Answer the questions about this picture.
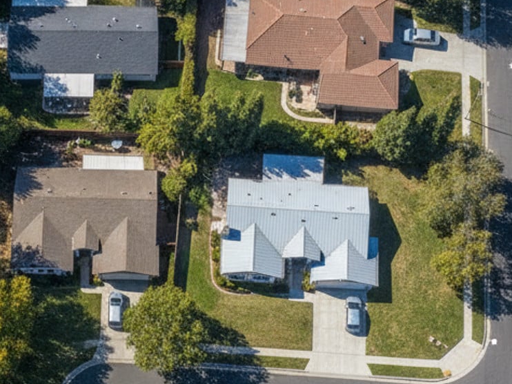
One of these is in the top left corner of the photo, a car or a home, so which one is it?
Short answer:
home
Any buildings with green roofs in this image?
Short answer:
No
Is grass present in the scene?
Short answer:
Yes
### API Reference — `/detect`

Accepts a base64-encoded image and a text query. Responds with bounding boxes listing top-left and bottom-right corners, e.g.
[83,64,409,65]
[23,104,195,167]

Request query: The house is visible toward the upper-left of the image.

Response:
[0,0,158,104]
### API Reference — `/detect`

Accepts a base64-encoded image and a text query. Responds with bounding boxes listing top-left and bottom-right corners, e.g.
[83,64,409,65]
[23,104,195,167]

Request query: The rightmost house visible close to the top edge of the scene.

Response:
[220,0,399,114]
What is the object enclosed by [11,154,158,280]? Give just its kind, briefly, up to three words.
house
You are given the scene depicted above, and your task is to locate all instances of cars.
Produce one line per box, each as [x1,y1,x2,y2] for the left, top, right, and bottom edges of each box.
[344,296,362,334]
[106,291,124,330]
[403,29,440,45]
